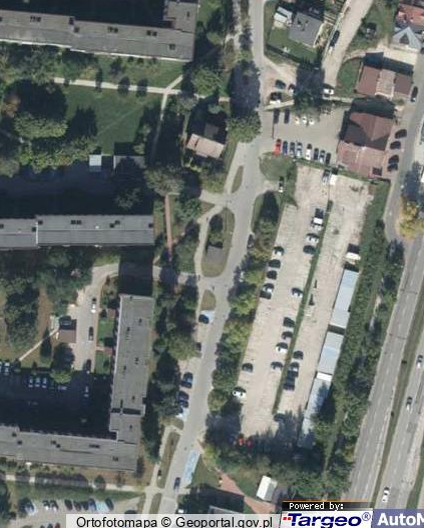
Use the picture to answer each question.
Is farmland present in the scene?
No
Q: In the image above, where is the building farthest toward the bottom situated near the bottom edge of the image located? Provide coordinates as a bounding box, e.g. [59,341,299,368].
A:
[206,506,246,528]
